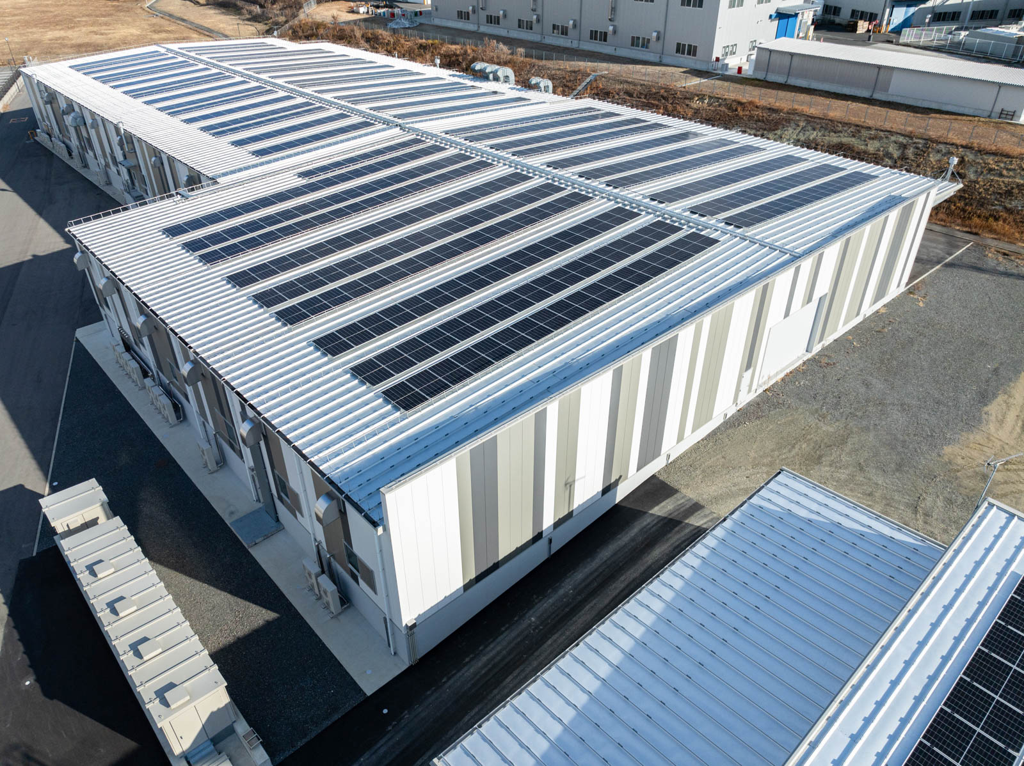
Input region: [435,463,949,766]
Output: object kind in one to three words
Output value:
warehouse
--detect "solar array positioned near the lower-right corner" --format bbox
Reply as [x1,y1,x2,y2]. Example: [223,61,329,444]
[904,577,1024,766]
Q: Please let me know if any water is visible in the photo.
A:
No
